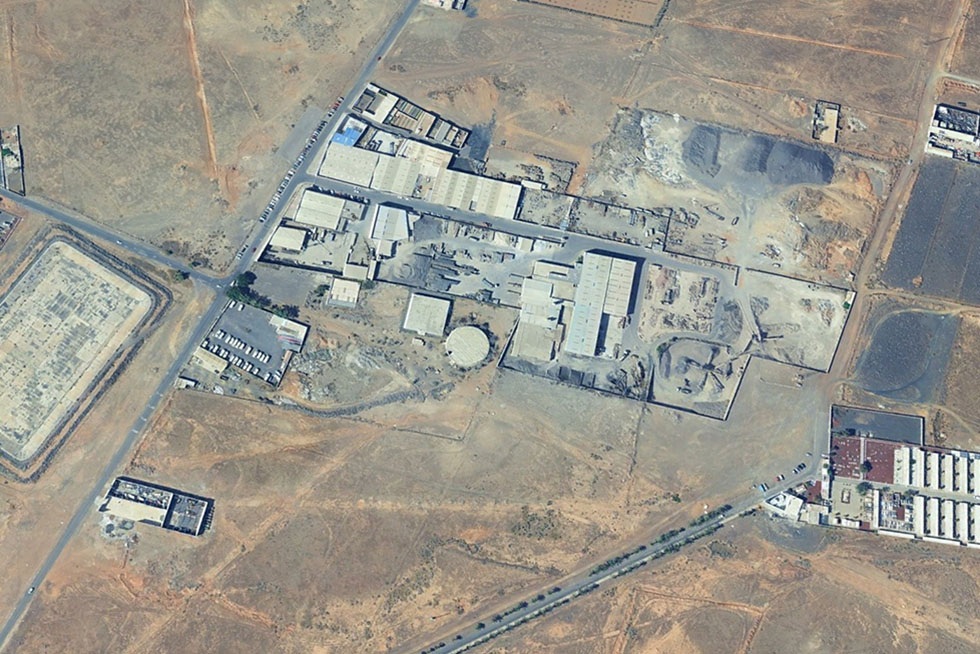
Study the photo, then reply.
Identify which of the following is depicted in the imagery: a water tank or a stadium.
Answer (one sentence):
Looking from above, you can make out a water tank.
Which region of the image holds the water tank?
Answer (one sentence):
The water tank is in the center part of the image.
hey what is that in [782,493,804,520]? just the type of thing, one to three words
house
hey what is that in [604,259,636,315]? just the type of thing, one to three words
building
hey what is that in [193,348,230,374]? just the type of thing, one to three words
shed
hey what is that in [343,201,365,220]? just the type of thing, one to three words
building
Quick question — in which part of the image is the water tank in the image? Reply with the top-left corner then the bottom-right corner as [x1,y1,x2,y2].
[441,325,489,368]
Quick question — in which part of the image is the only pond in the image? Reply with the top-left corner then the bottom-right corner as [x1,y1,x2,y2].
[0,225,166,478]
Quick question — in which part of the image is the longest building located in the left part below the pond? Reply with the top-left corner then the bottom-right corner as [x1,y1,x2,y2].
[100,498,167,525]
